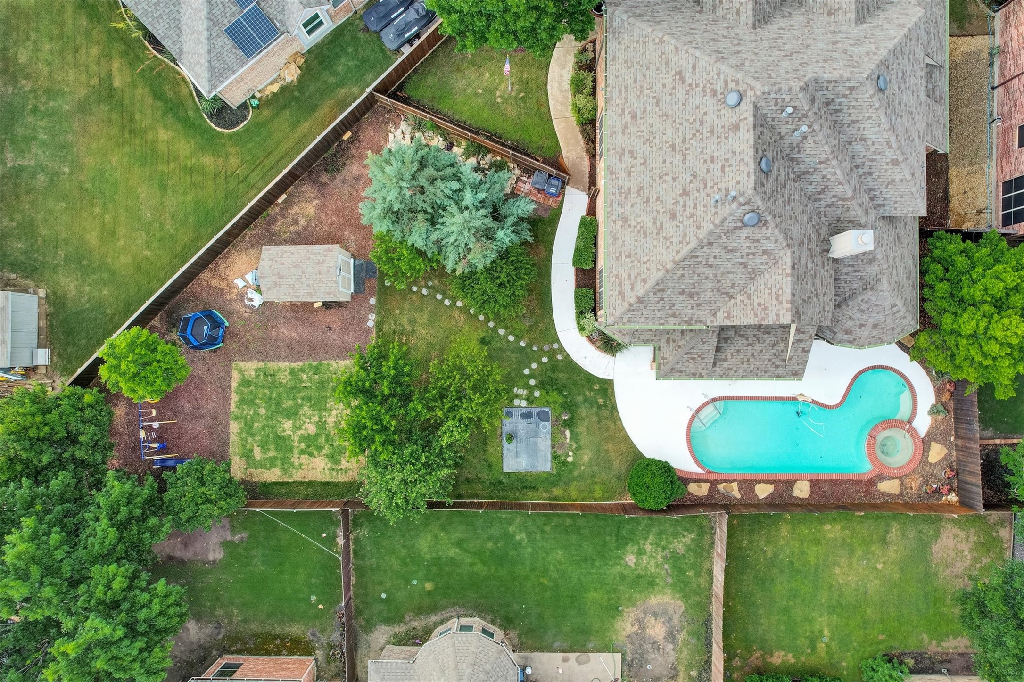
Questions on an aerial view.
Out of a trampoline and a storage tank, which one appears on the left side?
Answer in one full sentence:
The one visible on the left side is a trampoline.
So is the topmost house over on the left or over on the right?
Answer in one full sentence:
The topmost house is on the left side of the image.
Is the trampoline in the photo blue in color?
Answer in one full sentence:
Yes, the trampoline is indeed blue.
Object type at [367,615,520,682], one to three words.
house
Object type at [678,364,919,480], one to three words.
swimming pool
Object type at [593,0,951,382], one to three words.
house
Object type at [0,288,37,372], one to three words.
shed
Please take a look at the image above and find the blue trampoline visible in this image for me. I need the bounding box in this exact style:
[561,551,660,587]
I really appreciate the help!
[178,308,230,352]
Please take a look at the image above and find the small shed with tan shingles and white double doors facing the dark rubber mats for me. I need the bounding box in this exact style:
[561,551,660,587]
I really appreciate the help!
[258,245,355,301]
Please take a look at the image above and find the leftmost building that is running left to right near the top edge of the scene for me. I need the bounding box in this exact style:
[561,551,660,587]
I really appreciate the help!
[120,0,372,108]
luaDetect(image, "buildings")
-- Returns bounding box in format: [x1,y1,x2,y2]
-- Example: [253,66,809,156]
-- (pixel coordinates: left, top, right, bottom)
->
[988,0,1024,229]
[120,0,372,108]
[258,245,355,301]
[904,670,973,682]
[0,288,37,372]
[367,615,520,682]
[186,654,316,682]
[593,0,951,382]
